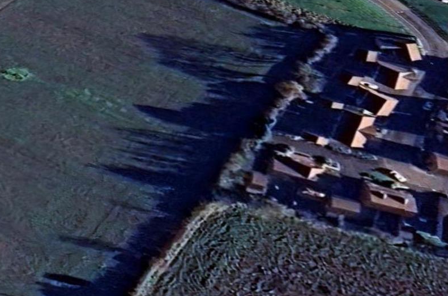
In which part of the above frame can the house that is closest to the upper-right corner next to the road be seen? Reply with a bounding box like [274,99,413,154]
[390,42,428,71]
